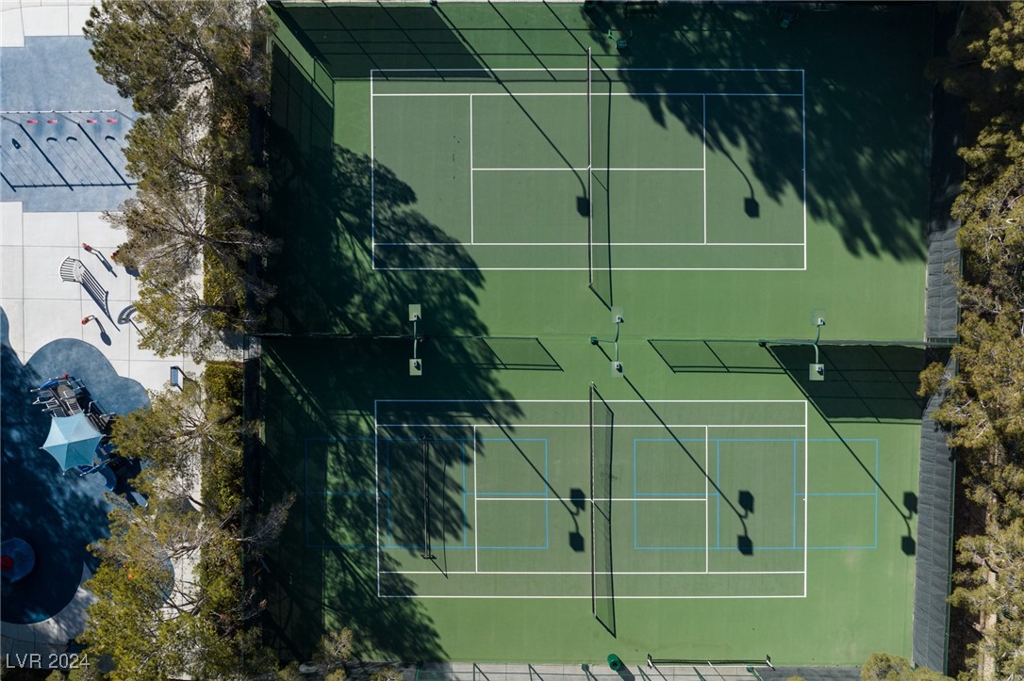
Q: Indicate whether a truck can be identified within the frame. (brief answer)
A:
No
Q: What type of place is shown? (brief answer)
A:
sports ground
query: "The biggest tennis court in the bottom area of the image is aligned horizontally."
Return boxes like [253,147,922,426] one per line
[260,341,924,666]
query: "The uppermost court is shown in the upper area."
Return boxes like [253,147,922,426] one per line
[261,1,931,341]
